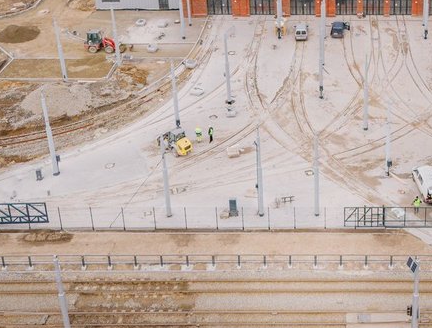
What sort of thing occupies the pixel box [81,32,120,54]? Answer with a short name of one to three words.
work vehicle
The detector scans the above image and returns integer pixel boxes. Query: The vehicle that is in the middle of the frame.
[154,126,193,156]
